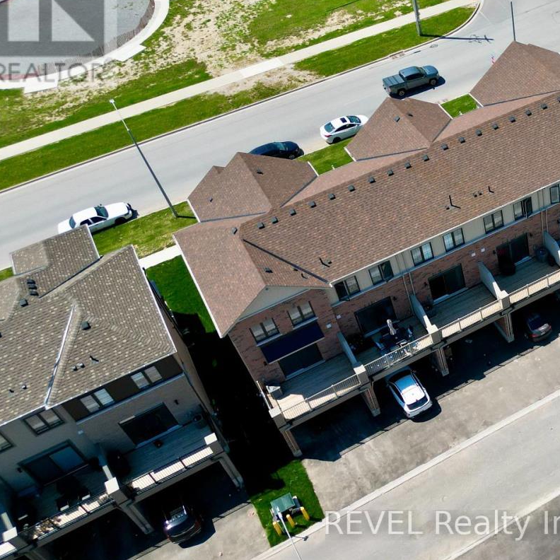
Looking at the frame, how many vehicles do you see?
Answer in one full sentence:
The count of vehicles comes to 7.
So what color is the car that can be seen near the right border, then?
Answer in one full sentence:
The car that can be seen near the right border is black.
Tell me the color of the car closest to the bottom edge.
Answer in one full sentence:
In this view, the car closest to the bottom edge is black.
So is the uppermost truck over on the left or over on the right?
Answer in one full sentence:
It is on the right.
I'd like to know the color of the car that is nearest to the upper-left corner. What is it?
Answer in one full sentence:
The car that is nearest to the upper-left corner is white.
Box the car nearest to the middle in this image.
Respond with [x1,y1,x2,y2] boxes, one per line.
[244,137,302,158]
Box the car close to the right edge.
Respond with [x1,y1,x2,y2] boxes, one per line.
[513,302,554,341]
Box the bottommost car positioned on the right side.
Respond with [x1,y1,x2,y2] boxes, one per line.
[382,364,434,415]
